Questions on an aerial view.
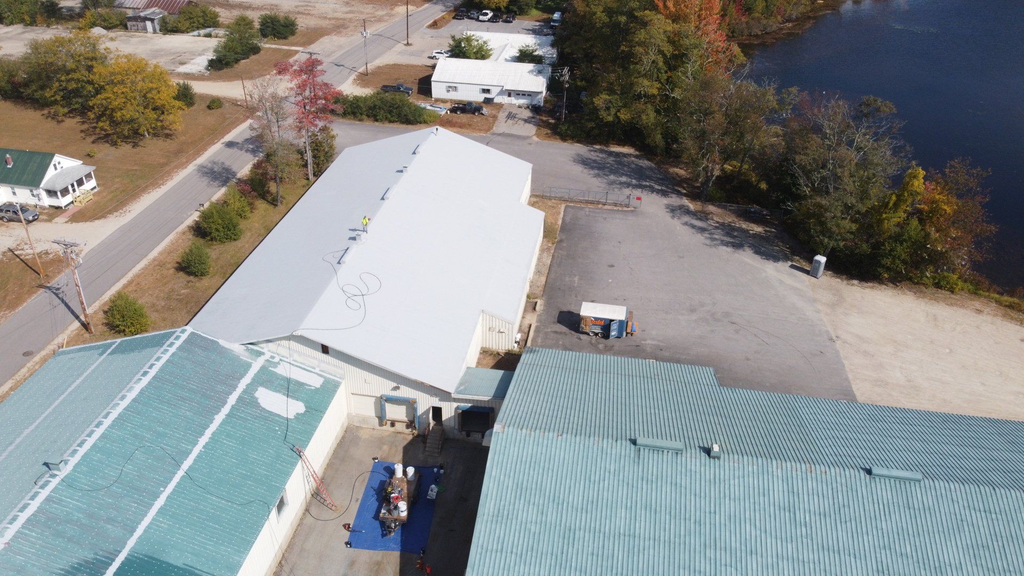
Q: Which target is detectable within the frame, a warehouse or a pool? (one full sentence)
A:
I can see a warehouse in this picture.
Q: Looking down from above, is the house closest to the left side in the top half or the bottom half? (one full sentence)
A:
It is in the top half that the house closest to the left side appears.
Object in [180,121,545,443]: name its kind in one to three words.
warehouse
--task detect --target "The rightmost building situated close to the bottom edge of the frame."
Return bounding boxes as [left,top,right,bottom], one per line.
[468,347,1024,576]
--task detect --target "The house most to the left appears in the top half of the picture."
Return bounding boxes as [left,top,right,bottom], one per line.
[0,148,99,213]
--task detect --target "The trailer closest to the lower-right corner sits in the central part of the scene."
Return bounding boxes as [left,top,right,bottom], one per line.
[579,302,635,340]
